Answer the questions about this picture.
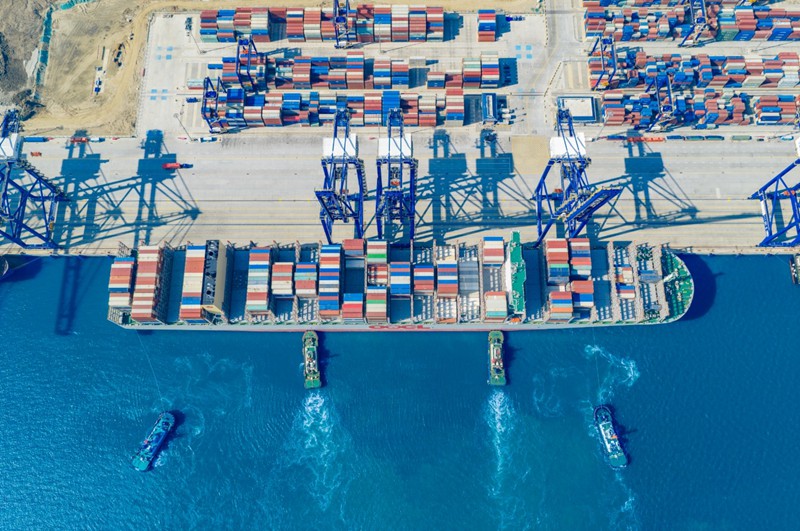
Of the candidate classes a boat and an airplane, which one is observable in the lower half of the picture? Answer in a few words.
boat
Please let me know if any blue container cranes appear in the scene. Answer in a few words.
Yes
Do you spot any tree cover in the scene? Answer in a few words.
No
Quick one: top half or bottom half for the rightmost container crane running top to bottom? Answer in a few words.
top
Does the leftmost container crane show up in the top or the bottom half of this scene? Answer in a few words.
top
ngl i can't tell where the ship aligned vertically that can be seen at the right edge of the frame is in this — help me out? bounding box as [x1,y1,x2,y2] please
[778,254,800,302]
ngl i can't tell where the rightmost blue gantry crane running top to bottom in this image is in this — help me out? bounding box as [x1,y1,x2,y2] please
[747,108,800,247]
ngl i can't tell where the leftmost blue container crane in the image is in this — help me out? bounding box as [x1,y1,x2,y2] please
[0,108,70,247]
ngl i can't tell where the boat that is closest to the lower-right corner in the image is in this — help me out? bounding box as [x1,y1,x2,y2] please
[594,405,625,469]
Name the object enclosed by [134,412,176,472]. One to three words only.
boat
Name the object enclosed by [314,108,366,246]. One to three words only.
container crane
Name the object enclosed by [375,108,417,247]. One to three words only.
container crane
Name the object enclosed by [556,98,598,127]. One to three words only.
building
